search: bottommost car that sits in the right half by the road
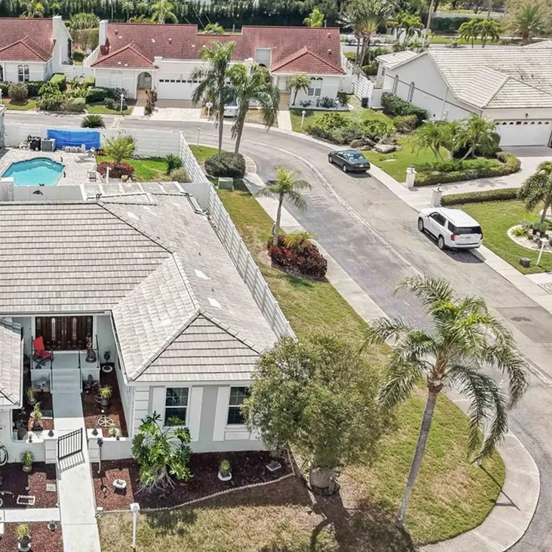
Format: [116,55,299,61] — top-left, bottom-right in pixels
[418,208,483,251]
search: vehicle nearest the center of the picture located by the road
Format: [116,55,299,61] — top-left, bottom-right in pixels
[317,145,372,172]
